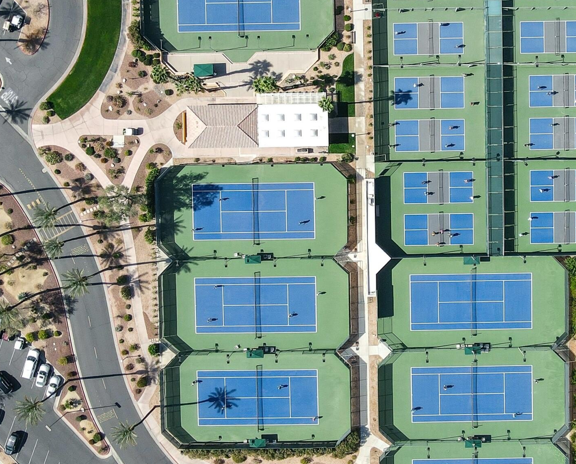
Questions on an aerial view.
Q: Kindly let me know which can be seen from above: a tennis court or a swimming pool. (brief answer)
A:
tennis court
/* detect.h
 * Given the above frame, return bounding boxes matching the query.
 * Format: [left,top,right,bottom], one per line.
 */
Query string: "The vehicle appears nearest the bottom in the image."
[5,431,20,456]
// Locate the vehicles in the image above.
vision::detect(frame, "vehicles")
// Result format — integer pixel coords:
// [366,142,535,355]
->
[2,21,17,31]
[126,128,138,134]
[35,363,51,388]
[0,371,14,396]
[11,15,25,26]
[46,374,62,399]
[5,431,20,456]
[14,338,29,350]
[19,351,40,380]
[298,148,309,153]
[1,330,13,343]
